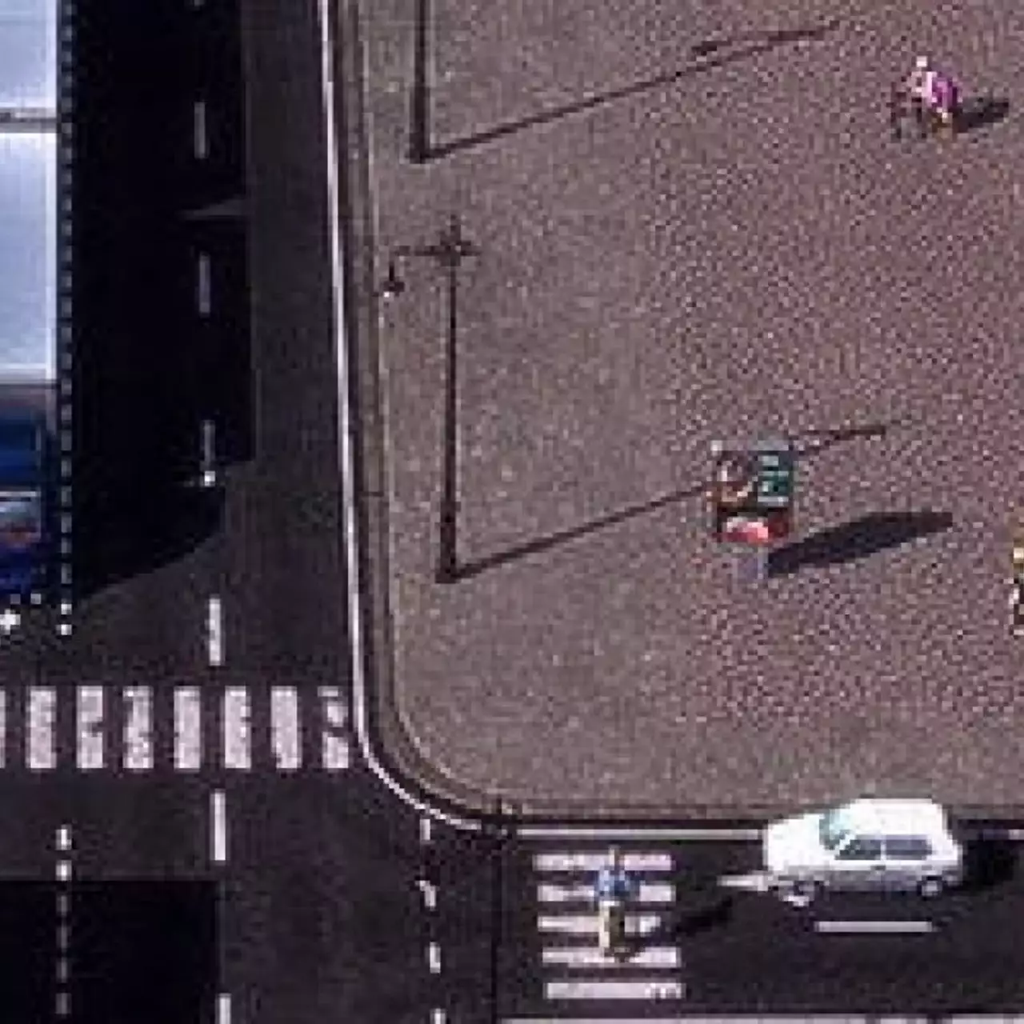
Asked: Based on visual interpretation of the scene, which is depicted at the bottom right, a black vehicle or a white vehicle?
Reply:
white vehicle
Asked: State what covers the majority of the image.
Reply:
paved ground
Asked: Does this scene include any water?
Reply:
No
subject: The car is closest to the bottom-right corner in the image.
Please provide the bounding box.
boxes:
[761,797,966,901]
